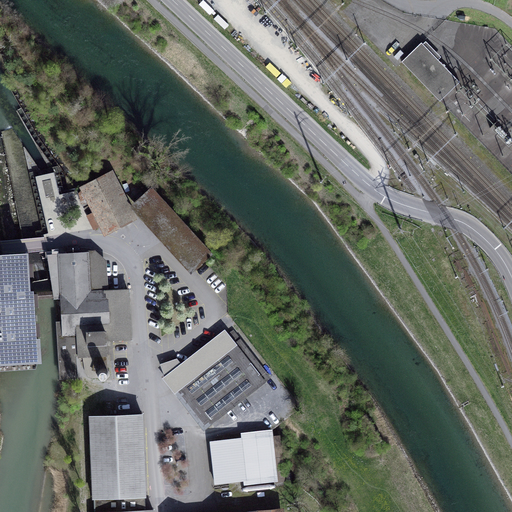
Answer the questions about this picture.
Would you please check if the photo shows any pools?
No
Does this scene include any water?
Yes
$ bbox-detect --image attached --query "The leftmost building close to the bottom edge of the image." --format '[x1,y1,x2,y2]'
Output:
[89,414,148,500]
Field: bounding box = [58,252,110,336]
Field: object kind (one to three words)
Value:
building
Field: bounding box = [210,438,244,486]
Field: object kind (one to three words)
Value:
building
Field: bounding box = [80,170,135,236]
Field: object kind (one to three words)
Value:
barn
